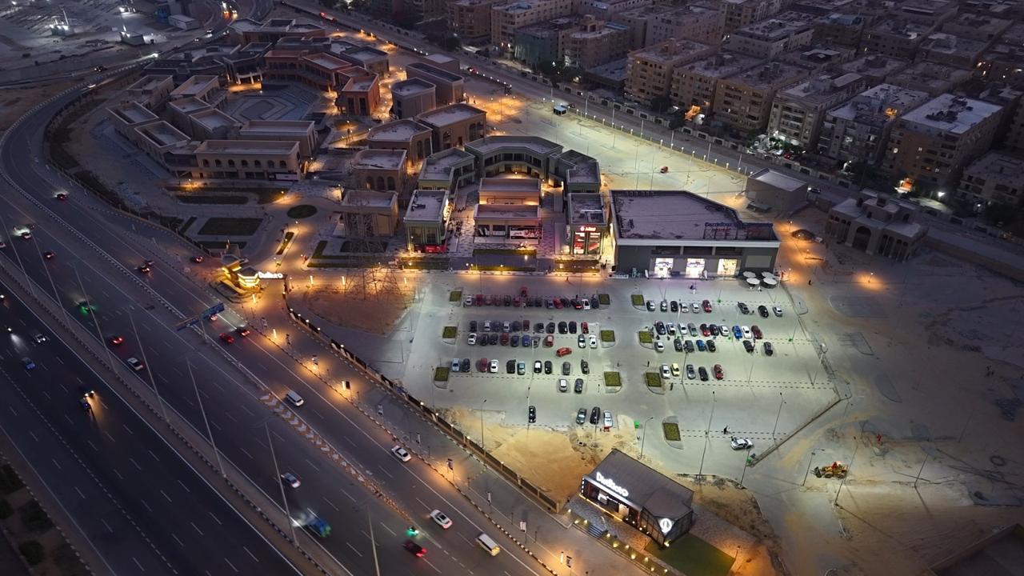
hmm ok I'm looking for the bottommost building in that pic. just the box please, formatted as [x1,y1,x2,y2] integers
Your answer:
[579,448,695,550]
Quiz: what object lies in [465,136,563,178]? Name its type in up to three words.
building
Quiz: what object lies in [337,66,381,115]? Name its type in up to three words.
building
